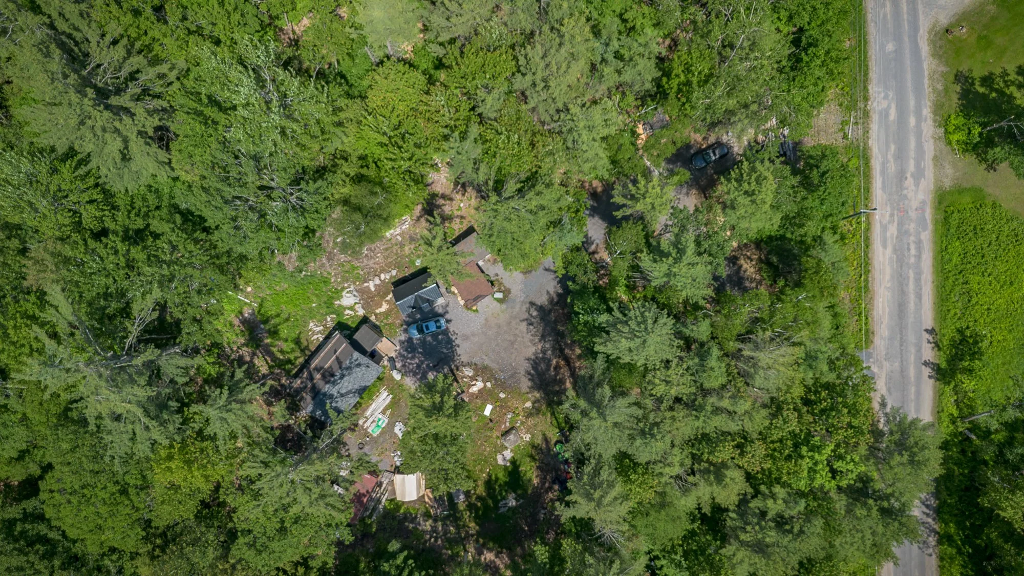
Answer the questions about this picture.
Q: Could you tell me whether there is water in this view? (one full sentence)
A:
No, the picture contains no water.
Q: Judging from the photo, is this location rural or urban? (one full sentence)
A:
The land in this view is best described as rural.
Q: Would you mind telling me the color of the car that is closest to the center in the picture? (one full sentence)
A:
The car that is closest to the center is blue.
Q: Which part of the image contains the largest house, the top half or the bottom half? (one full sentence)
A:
Seen from above, the largest house lies in the bottom half of the view.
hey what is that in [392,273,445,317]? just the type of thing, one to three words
shed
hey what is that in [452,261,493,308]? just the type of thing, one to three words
shed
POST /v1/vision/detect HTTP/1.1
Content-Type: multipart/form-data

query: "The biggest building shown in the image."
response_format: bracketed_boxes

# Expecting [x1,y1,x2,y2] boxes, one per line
[292,330,383,423]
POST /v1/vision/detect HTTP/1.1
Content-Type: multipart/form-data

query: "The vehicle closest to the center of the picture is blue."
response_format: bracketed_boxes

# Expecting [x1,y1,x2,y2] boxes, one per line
[406,315,449,339]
